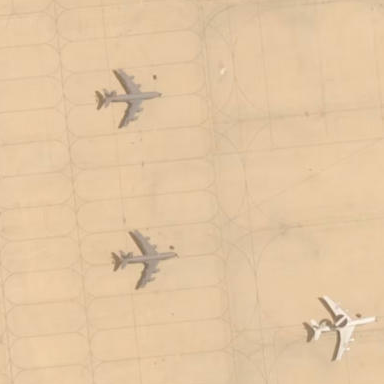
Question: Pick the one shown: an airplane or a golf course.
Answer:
airplane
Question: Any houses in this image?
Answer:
No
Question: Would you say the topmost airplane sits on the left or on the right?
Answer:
left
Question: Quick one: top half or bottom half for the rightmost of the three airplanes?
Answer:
bottom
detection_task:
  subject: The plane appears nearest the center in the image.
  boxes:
[119,230,177,288]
